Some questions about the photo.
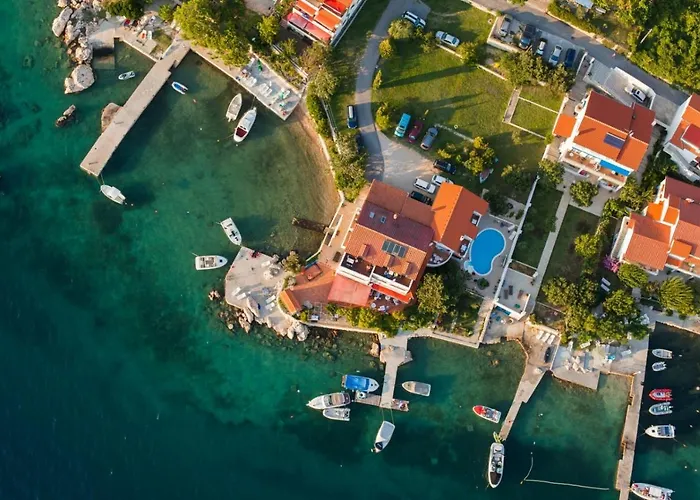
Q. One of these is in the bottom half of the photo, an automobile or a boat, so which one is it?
boat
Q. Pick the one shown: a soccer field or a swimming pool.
swimming pool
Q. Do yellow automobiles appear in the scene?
No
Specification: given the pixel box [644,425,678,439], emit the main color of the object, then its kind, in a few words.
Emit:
white boat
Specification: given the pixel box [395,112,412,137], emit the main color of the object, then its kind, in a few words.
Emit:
blue car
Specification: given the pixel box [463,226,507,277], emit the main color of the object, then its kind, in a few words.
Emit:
blue swimming pool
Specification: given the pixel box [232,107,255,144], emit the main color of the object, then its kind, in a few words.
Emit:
white boat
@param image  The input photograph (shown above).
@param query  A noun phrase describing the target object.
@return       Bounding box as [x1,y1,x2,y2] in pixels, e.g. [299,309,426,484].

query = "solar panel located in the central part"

[382,241,408,259]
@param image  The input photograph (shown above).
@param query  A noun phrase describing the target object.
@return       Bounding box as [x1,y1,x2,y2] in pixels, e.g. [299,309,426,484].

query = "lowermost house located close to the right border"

[604,176,700,281]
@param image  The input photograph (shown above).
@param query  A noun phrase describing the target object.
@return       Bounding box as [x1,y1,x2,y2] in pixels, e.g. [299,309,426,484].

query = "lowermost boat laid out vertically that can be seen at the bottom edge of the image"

[489,438,504,489]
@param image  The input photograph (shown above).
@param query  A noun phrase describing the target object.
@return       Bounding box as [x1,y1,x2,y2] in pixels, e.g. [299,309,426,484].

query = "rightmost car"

[625,87,647,105]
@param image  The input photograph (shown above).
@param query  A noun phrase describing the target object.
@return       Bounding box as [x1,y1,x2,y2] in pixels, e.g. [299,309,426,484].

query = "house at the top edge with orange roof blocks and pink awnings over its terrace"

[288,0,367,51]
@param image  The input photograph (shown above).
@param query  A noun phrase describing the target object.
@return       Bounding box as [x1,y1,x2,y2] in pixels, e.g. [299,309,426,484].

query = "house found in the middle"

[280,179,488,317]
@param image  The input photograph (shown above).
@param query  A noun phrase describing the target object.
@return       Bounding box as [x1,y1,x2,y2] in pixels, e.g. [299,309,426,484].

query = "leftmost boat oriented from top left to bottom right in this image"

[100,184,129,207]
